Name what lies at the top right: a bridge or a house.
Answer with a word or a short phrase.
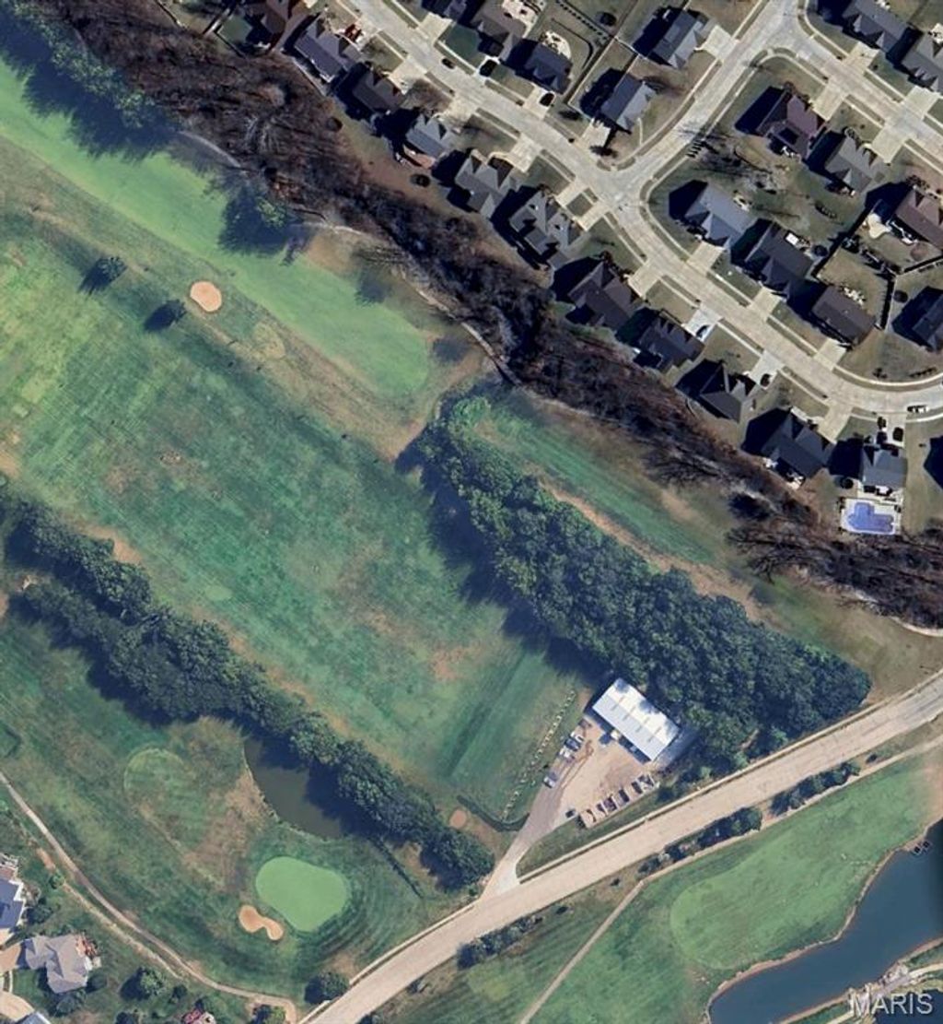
house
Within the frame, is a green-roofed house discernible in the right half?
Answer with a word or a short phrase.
No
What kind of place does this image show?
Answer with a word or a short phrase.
golf course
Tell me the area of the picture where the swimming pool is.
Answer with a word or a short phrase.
right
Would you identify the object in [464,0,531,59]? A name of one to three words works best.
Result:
house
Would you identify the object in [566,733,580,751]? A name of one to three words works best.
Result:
vehicle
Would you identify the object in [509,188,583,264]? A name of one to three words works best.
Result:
house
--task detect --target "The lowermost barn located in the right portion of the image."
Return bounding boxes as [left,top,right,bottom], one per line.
[592,677,681,762]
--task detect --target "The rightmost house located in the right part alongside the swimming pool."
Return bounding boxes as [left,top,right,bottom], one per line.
[861,445,911,489]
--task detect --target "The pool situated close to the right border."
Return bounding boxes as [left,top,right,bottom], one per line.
[841,499,902,536]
